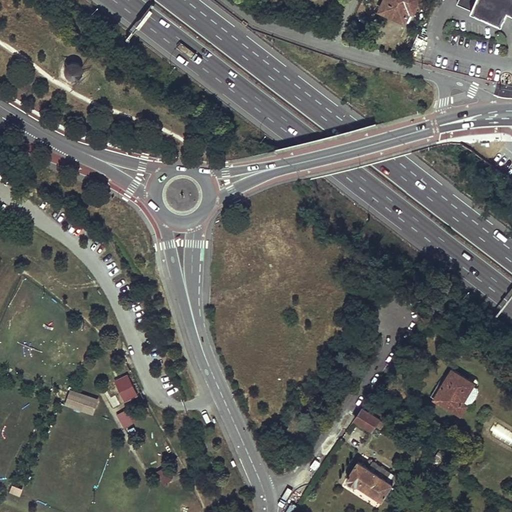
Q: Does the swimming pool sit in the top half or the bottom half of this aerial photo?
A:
bottom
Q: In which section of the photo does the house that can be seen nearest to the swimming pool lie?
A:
bottom right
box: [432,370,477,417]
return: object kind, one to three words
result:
house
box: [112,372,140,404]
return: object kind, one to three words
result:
building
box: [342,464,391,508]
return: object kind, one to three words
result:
house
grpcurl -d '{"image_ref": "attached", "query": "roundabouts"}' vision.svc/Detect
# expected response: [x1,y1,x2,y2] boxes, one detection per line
[109,158,262,244]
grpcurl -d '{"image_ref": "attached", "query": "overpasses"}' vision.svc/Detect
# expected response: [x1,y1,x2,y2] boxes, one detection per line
[262,114,426,191]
